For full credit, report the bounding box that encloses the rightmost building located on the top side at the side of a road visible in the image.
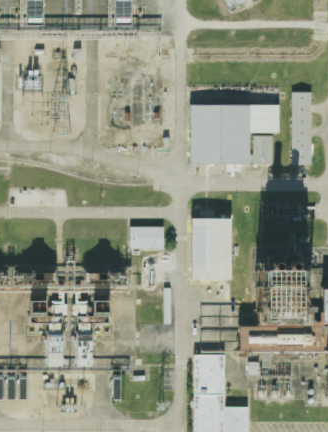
[292,92,312,166]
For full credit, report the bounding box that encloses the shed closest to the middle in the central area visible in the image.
[130,227,164,250]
